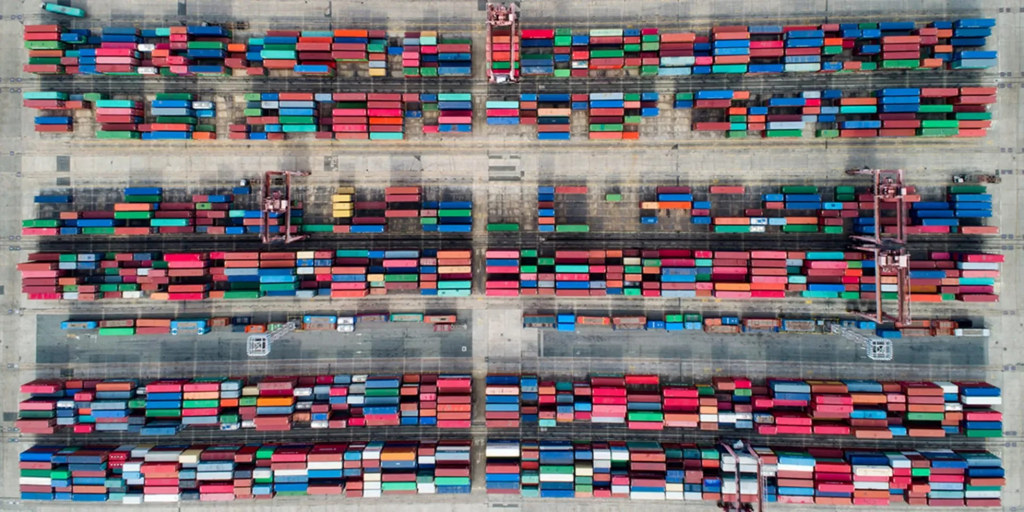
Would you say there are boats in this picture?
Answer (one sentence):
No, I find no boat anywhere in the image.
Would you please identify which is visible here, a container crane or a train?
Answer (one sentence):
The image shows a container crane.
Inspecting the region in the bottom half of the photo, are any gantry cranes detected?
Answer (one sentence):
Yes, a gantry crane is visible in the bottom half of the photo.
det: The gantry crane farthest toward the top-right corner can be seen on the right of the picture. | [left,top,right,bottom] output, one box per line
[843,168,906,244]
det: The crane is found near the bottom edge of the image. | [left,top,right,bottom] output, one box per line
[715,436,765,512]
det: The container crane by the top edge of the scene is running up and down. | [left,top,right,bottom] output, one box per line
[486,1,520,88]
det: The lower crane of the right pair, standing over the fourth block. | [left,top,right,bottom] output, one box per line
[843,242,909,324]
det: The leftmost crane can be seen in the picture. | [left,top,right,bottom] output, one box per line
[263,171,314,243]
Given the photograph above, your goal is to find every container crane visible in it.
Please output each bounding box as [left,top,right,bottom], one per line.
[843,242,909,324]
[263,171,314,243]
[486,1,520,88]
[715,436,765,512]
[843,168,906,244]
